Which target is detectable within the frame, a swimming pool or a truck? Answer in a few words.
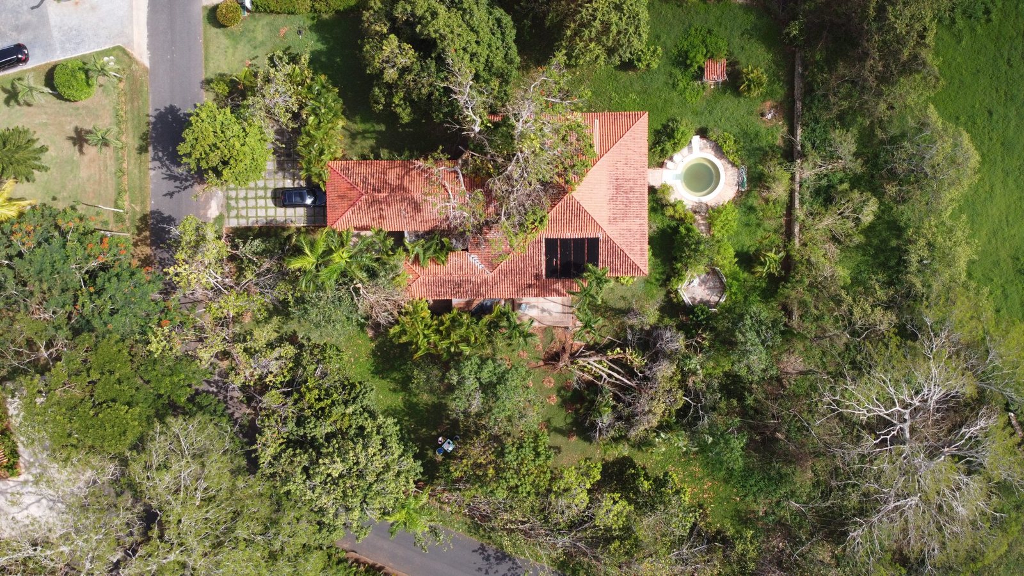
swimming pool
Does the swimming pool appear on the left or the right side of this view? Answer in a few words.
right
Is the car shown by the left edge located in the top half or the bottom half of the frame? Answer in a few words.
top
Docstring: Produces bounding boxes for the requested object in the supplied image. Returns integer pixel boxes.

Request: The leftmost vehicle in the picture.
[0,43,37,77]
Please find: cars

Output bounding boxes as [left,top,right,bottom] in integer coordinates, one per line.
[282,187,328,211]
[0,43,37,77]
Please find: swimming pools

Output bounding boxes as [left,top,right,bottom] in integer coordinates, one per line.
[662,133,727,205]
